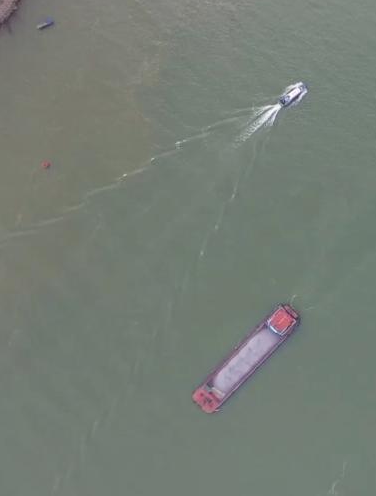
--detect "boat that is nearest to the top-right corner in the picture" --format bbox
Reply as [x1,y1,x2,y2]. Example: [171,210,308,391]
[279,85,306,104]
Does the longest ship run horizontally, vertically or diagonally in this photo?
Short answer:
diagonally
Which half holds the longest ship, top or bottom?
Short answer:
bottom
